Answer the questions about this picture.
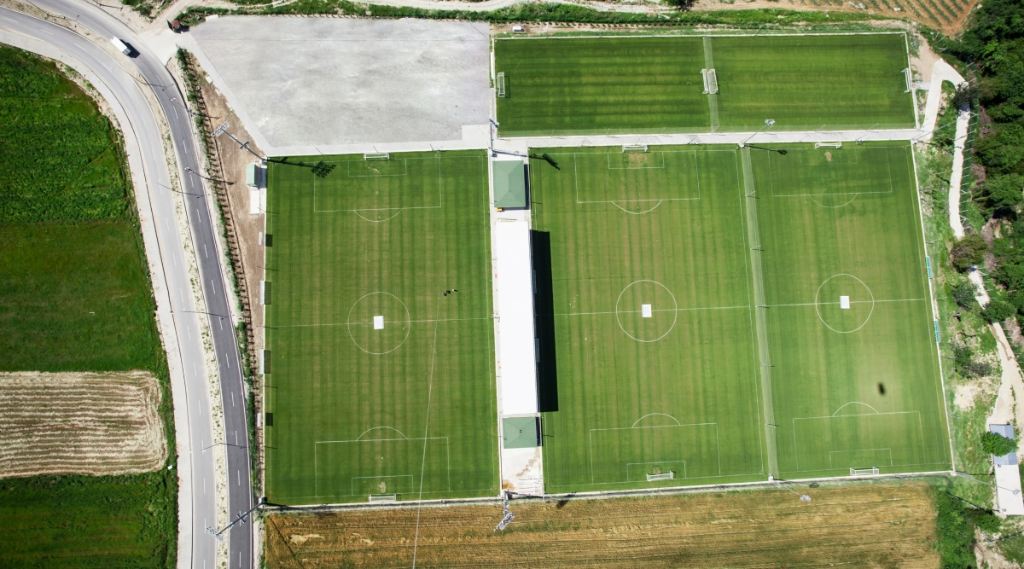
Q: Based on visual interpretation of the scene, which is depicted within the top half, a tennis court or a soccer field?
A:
soccer field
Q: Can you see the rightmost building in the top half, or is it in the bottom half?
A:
bottom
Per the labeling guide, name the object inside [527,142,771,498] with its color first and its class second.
green soccer field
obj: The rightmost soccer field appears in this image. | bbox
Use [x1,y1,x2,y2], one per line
[741,139,955,482]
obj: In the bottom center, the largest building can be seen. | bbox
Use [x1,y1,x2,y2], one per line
[503,417,537,449]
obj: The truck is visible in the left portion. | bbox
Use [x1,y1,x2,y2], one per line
[110,36,138,60]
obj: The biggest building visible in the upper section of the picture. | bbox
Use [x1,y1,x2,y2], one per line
[492,160,526,207]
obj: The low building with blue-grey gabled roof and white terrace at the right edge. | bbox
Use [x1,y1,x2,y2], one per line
[985,424,1024,514]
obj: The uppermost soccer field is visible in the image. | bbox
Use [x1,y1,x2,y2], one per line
[492,31,919,140]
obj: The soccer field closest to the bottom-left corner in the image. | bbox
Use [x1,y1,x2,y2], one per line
[261,148,503,508]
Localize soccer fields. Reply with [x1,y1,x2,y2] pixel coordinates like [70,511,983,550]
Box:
[741,139,955,482]
[261,148,503,508]
[527,142,771,498]
[492,31,919,140]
